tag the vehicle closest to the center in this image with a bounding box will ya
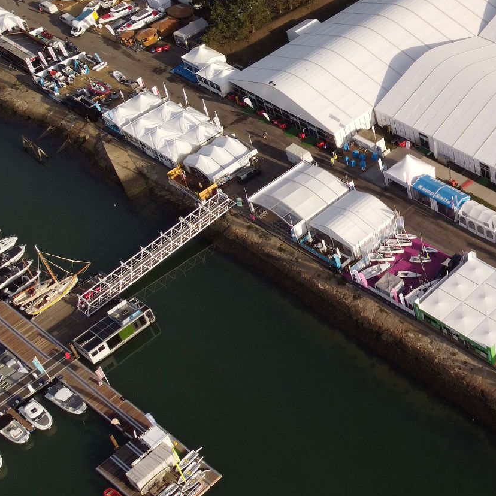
[234,164,263,184]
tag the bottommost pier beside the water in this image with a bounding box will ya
[95,421,223,496]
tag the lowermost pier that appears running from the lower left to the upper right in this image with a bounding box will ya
[0,347,81,409]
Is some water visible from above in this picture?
Yes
